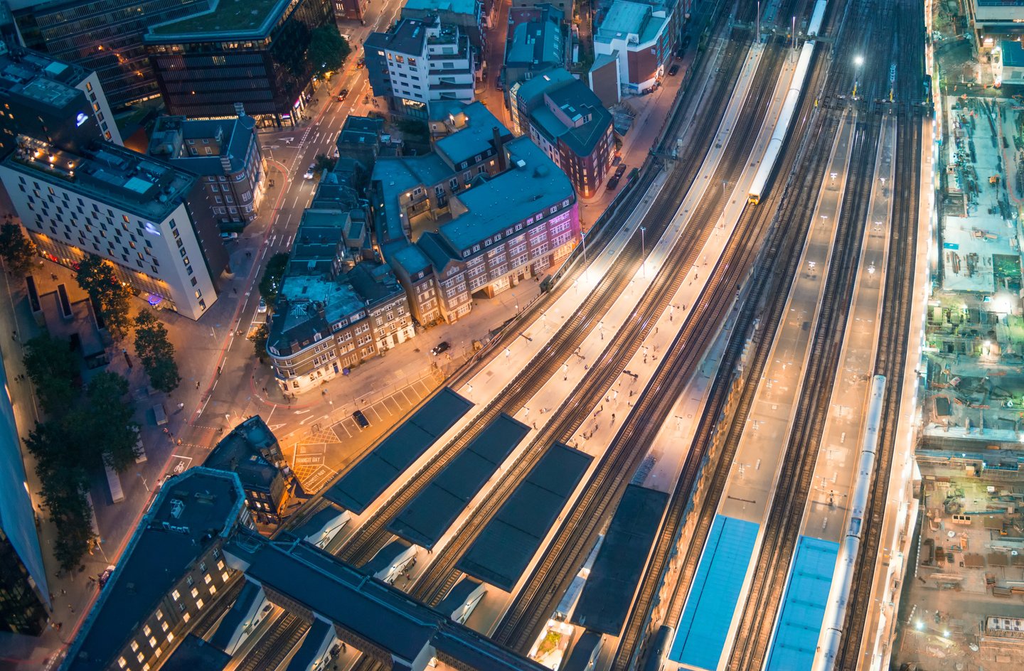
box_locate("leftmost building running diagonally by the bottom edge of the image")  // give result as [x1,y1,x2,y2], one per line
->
[55,465,257,671]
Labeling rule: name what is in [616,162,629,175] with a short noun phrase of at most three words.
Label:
vehicle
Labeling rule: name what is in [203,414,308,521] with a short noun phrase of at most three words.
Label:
building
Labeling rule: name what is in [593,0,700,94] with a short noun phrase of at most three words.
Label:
building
